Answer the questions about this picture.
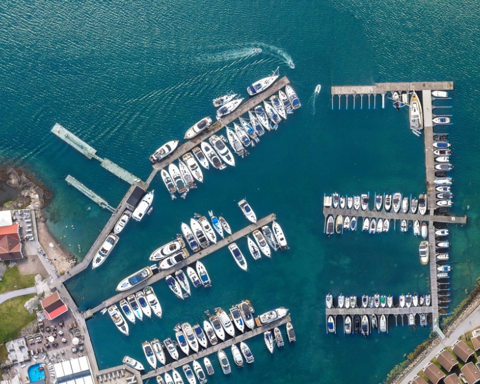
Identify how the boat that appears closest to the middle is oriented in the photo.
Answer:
at an angle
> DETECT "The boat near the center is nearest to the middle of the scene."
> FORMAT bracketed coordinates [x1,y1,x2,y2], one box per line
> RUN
[237,198,257,223]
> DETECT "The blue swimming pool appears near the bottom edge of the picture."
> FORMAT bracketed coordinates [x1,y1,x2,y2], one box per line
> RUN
[27,362,46,383]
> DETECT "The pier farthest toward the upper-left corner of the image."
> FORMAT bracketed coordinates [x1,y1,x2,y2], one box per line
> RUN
[51,123,96,160]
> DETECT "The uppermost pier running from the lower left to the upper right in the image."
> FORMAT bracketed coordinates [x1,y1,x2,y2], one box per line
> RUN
[152,76,289,171]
